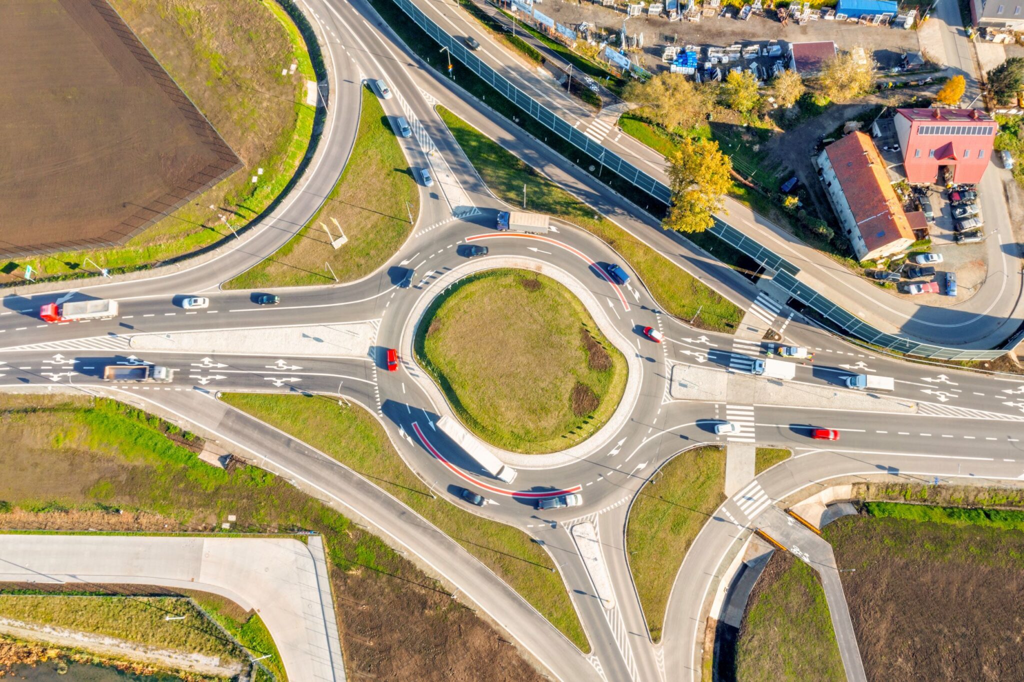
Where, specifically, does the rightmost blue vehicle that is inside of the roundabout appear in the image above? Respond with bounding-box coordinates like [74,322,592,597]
[607,265,631,286]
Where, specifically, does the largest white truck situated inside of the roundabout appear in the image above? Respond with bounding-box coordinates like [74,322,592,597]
[433,417,515,486]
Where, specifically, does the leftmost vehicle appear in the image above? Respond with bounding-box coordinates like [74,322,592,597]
[32,301,119,326]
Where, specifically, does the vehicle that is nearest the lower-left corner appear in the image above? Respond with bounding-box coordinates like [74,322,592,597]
[98,365,170,384]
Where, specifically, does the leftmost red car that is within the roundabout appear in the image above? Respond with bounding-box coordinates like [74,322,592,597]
[385,349,398,371]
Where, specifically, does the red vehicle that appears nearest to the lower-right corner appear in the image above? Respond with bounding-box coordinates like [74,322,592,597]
[811,428,839,441]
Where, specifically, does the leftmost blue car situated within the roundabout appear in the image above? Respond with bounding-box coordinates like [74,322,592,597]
[400,269,416,288]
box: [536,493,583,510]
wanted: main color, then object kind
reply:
white vehicle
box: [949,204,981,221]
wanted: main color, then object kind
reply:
white car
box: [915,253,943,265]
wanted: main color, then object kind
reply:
white vehicle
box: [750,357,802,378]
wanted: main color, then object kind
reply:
white truck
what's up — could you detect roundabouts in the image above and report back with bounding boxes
[374,209,726,531]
